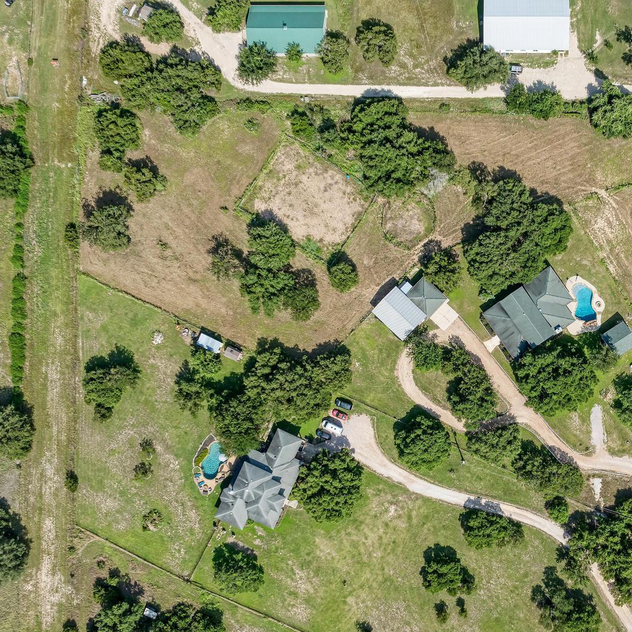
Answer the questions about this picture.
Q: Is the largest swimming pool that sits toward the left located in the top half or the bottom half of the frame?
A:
bottom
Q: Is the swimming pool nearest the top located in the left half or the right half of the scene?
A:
right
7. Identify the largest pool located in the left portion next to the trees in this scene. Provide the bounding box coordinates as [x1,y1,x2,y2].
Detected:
[193,439,237,496]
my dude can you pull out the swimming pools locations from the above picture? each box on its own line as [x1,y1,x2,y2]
[566,275,605,335]
[193,439,237,496]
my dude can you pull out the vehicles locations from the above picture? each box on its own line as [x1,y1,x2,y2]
[508,66,523,74]
[335,398,353,411]
[322,419,343,434]
[316,429,332,441]
[332,410,348,421]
